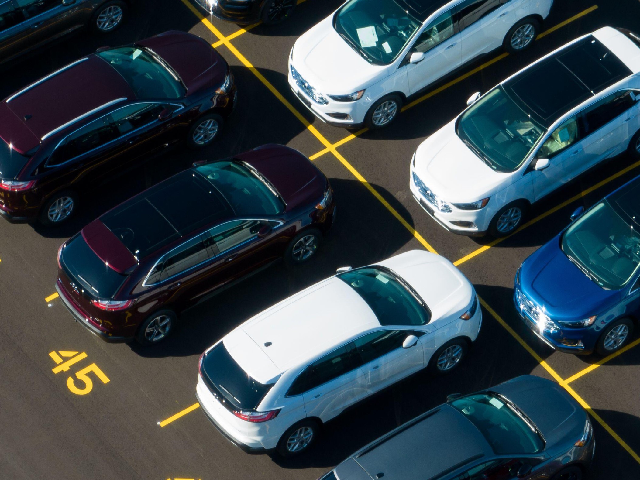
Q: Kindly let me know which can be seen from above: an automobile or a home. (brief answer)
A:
automobile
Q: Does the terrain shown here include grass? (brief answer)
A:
No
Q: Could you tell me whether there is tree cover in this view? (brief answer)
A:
No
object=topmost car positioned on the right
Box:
[289,0,559,130]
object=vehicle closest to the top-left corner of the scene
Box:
[0,0,137,77]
